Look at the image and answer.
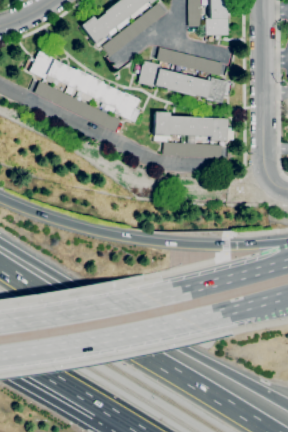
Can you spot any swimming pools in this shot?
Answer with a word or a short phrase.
No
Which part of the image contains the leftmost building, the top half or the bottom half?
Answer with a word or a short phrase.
top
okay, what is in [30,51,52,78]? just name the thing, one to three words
building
